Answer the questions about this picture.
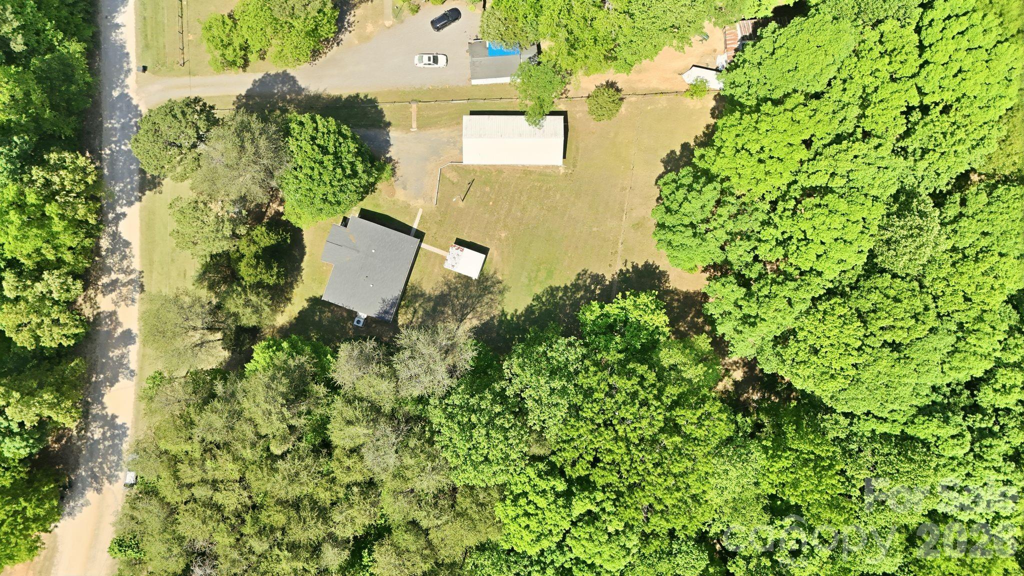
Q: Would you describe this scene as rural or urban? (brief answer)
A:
rural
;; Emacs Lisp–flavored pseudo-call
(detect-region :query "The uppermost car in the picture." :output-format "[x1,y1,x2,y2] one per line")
[430,9,461,32]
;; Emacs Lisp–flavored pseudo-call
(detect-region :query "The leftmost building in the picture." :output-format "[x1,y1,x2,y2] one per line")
[320,215,420,323]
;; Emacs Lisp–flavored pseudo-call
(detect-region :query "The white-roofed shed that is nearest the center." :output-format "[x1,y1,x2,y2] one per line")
[445,244,485,279]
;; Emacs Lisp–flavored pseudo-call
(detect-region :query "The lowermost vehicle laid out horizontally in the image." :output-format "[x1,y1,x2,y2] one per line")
[415,53,448,68]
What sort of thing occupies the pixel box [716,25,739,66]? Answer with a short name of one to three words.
shed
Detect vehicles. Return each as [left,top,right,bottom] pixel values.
[415,53,448,68]
[430,9,461,32]
[122,458,140,489]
